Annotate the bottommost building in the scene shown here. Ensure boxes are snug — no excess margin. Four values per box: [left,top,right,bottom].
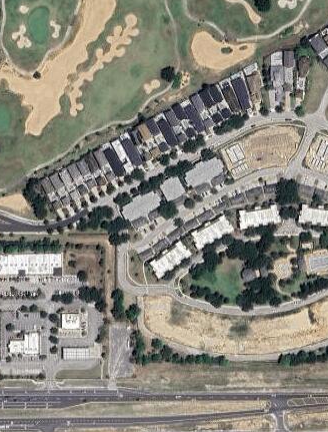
[9,331,39,354]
